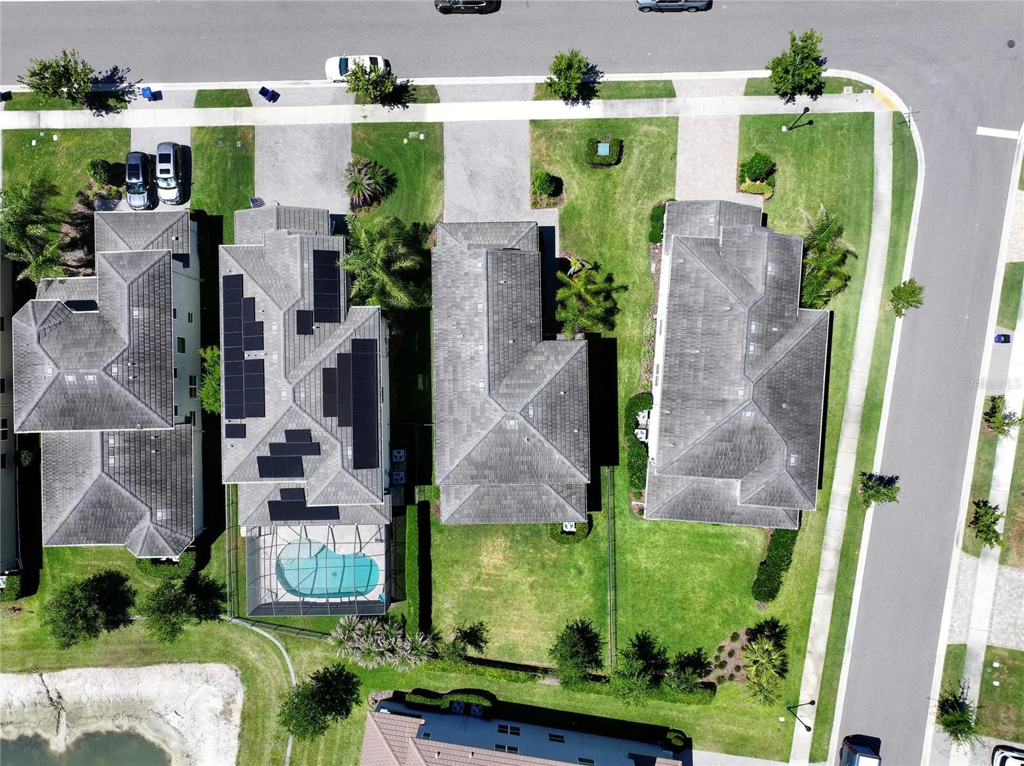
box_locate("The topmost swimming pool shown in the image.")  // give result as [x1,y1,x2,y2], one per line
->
[276,538,379,598]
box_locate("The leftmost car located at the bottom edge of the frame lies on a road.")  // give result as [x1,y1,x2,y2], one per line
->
[839,734,872,766]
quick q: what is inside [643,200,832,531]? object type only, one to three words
house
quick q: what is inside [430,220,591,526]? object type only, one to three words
house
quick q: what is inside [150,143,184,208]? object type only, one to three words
car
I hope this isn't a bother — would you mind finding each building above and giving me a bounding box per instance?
[10,208,204,560]
[430,220,591,526]
[643,200,832,531]
[359,701,682,766]
[217,206,393,527]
